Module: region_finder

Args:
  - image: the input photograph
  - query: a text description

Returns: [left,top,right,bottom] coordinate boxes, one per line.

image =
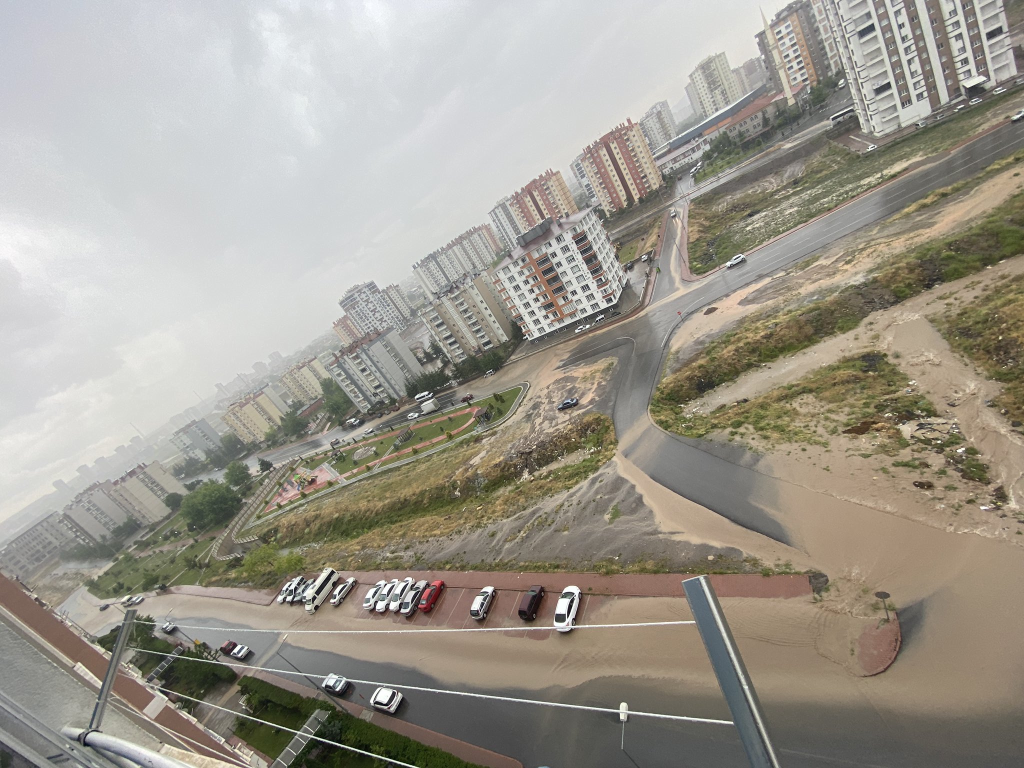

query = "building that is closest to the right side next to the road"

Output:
[841,0,1019,136]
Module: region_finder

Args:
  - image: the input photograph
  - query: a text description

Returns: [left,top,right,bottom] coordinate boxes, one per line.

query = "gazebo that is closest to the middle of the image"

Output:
[467,404,496,428]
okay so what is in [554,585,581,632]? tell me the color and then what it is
white car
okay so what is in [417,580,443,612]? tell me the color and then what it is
red car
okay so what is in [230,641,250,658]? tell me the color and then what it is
white car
